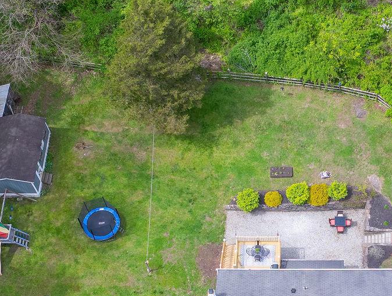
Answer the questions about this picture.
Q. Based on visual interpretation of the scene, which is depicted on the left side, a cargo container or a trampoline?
trampoline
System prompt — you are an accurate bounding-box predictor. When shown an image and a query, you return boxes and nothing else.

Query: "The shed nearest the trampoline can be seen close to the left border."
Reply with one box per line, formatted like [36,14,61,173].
[0,113,51,194]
